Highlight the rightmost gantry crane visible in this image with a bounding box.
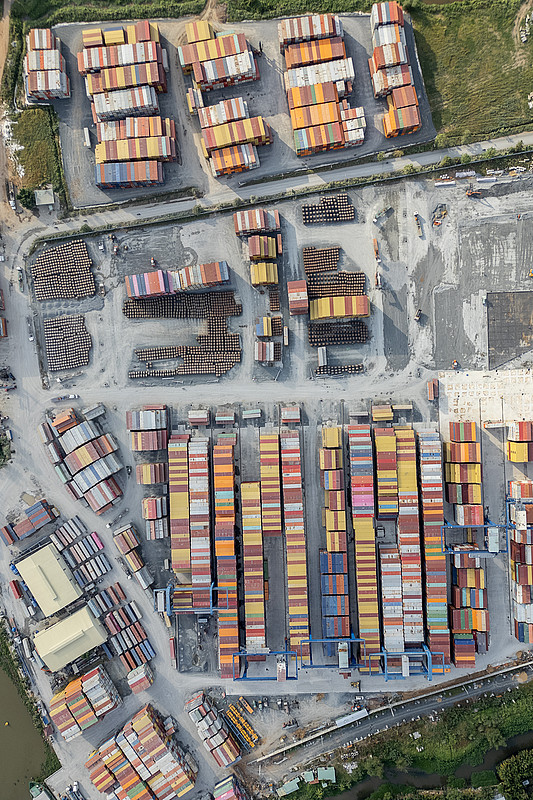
[499,494,533,531]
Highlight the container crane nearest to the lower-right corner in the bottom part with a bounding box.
[370,639,444,680]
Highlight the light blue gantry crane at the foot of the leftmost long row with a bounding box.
[154,577,228,614]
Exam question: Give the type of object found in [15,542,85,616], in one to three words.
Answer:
building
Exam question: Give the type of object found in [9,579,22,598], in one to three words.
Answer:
vehicle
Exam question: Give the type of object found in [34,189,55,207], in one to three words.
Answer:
shed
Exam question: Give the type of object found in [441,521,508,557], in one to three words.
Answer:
container crane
